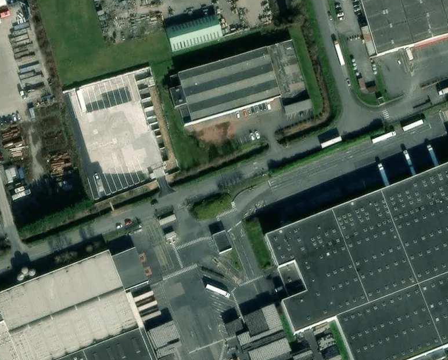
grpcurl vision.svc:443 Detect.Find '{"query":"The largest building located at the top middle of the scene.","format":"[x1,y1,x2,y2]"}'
[178,45,279,128]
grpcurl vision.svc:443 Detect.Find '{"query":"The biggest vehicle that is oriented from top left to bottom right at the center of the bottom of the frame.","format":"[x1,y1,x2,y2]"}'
[205,281,227,298]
